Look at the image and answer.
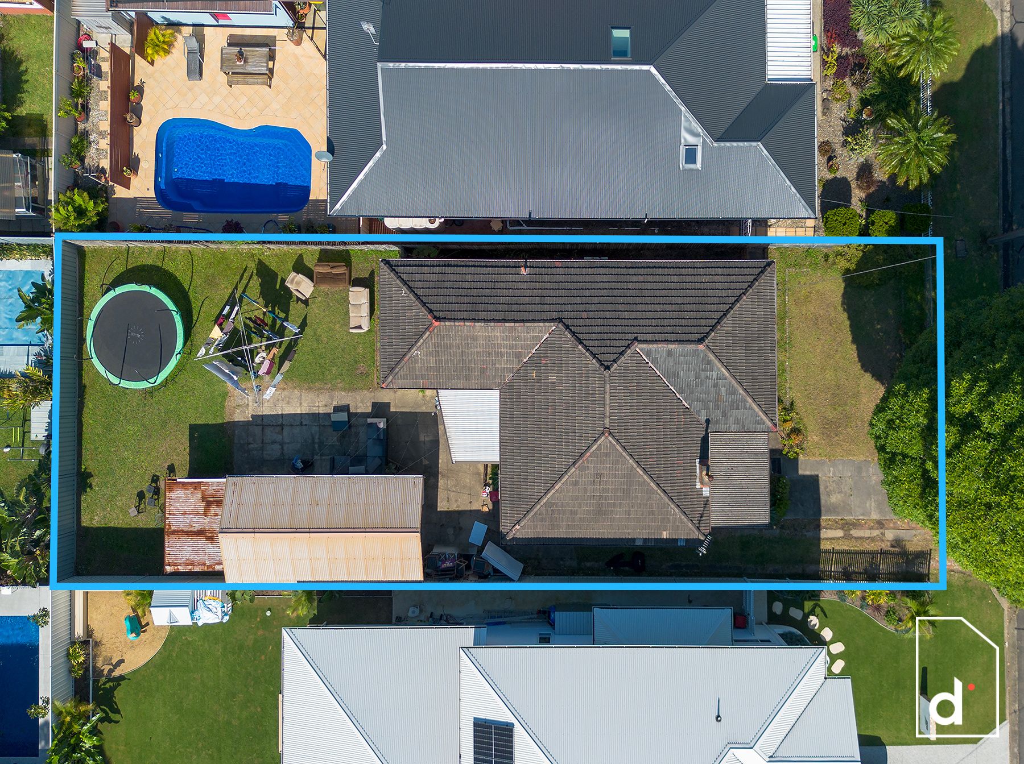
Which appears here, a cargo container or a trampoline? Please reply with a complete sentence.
This aerial view contains a trampoline.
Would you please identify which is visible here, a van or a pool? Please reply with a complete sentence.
Visible in the photo is a pool.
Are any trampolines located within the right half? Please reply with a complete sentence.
No, the scene shows no trampoline within the right half.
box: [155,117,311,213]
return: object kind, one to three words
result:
swimming pool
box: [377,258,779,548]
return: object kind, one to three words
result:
house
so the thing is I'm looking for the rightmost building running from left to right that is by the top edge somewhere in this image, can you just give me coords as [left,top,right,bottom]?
[326,0,819,222]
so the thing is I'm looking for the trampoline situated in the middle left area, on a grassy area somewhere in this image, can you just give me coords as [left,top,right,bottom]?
[74,281,189,395]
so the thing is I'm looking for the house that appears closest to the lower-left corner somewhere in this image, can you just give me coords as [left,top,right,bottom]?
[151,586,206,625]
